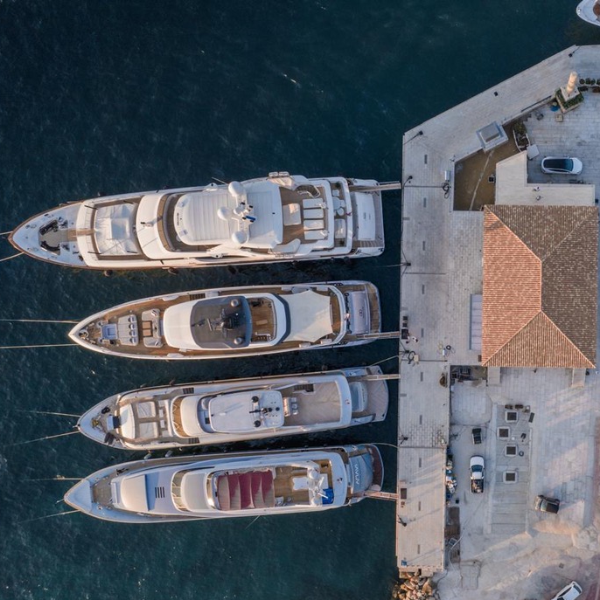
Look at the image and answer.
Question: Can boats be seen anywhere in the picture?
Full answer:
Yes, a boat can be made out from above.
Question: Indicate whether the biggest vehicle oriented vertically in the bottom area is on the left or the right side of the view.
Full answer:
You can find the biggest vehicle oriented vertically in the bottom area on the right side of the picture.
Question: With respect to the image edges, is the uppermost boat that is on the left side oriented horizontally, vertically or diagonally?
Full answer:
The uppermost boat that is on the left side has been laid out horizontally relative to the frame.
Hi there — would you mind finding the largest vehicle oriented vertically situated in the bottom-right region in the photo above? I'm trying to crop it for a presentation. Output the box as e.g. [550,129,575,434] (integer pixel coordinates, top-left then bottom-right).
[467,456,486,496]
